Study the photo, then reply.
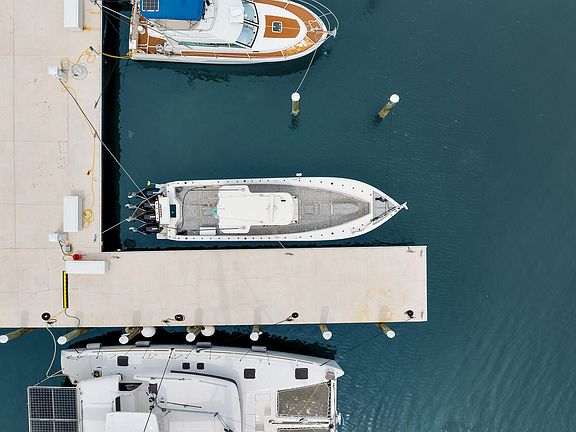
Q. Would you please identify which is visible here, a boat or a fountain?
boat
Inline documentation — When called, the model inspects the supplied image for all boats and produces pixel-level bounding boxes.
[129,0,338,64]
[125,177,407,241]
[28,344,344,432]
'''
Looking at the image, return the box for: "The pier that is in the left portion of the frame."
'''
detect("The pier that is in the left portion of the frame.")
[0,0,427,327]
